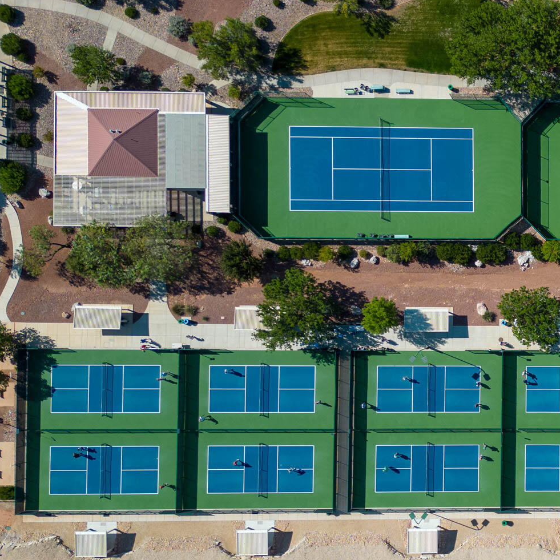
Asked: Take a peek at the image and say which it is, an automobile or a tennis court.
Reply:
tennis court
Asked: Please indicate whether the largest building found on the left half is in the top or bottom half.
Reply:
top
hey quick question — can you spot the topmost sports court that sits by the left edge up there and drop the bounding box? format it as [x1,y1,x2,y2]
[27,350,178,431]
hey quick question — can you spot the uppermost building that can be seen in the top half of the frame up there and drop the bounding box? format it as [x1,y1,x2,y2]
[46,91,229,226]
